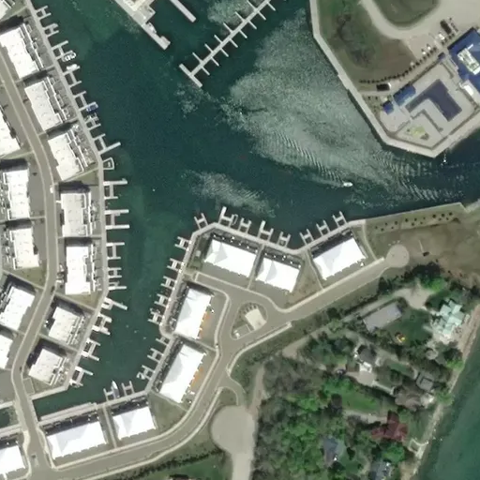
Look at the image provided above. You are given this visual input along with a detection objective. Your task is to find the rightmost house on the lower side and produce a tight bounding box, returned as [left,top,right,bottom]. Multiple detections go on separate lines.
[429,300,471,347]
